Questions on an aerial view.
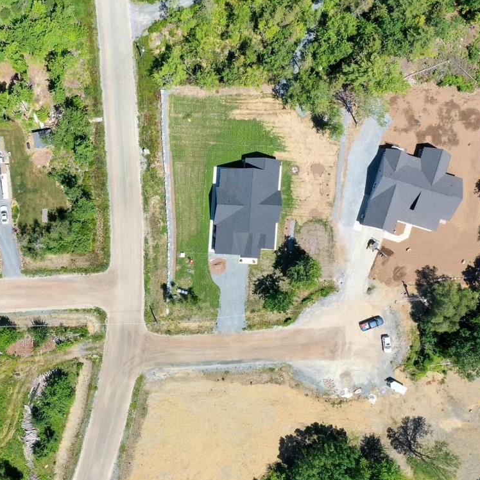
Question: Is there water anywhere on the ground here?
No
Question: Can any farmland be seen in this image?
No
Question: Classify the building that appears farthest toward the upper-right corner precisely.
home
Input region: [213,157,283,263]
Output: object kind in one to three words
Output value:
house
